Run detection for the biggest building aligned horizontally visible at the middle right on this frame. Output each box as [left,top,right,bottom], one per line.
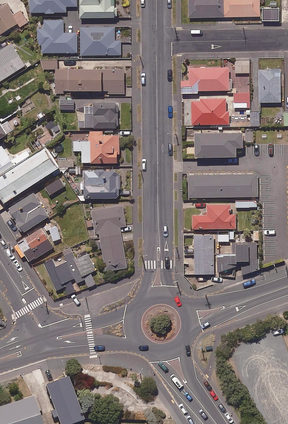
[188,173,260,198]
